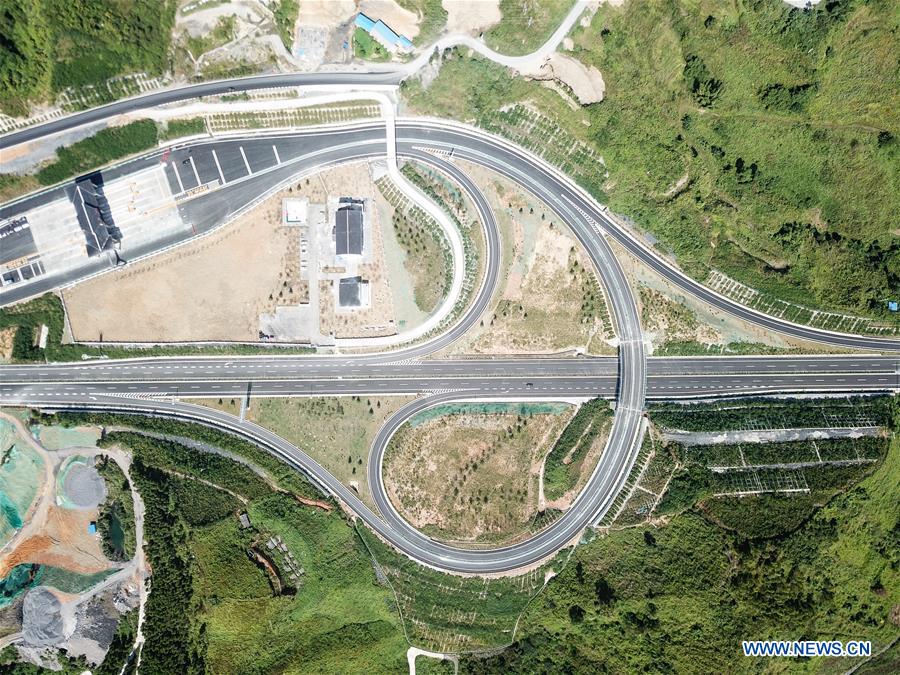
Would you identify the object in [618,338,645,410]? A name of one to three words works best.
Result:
overpass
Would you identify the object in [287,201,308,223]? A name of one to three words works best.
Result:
building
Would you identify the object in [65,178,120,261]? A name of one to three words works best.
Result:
toll station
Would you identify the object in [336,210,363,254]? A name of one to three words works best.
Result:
building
